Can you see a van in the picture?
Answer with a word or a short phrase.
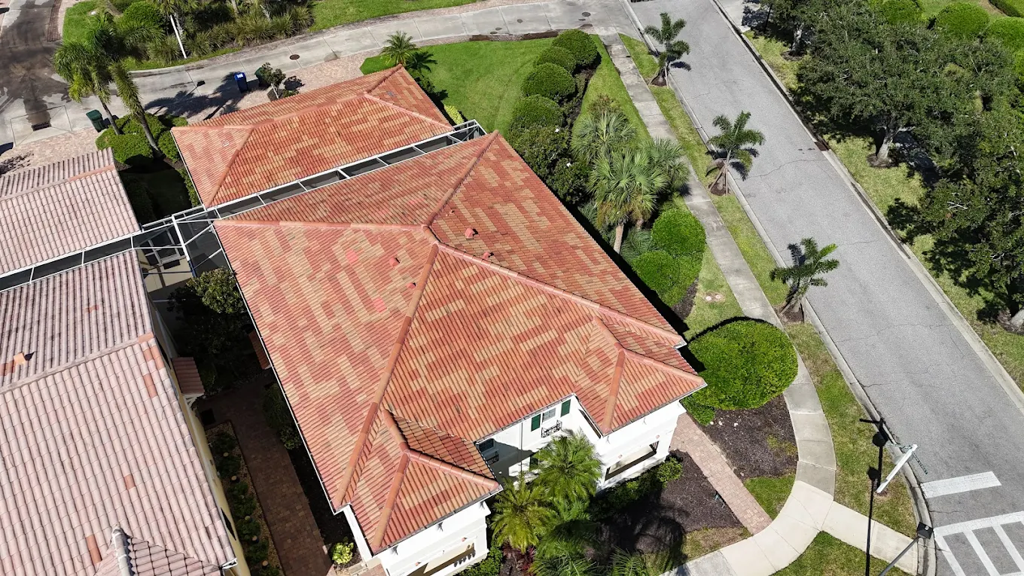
No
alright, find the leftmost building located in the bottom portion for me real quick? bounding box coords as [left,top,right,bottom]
[0,247,251,576]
